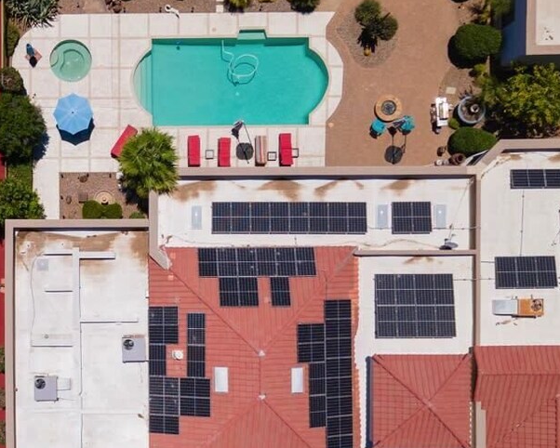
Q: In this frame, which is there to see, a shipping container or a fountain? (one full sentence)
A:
It is a fountain that can be seen here.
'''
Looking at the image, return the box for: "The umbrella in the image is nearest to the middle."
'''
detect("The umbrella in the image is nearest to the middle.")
[232,120,254,160]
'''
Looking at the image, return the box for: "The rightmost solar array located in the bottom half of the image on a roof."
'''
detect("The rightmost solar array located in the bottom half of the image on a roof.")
[494,257,558,288]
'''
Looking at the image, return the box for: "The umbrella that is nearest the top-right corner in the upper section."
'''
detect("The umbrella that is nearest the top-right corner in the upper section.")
[385,118,409,164]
